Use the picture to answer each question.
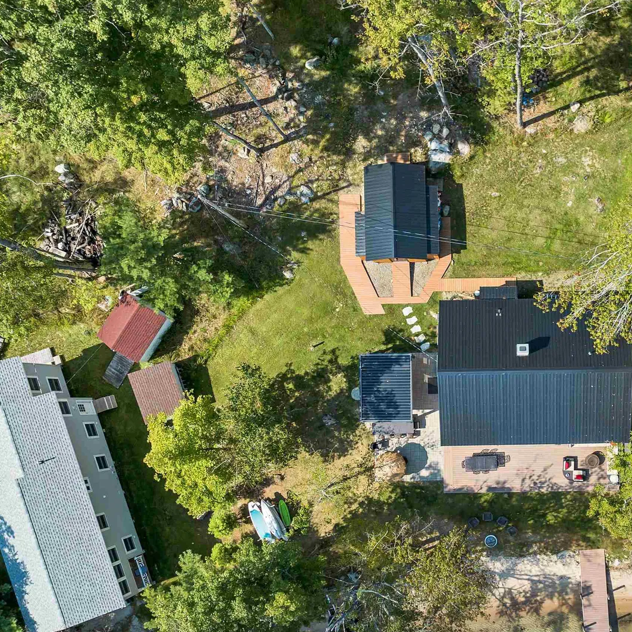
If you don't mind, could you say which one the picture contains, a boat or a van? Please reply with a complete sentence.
Visible in the photo is a boat.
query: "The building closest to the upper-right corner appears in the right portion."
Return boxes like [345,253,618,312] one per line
[356,161,439,264]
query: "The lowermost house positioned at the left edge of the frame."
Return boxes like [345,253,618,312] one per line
[0,354,154,632]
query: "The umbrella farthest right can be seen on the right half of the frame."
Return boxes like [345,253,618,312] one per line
[370,446,411,486]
